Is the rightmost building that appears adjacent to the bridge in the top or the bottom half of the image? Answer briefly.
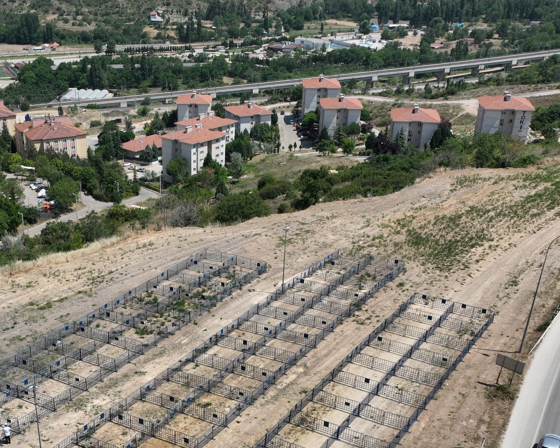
top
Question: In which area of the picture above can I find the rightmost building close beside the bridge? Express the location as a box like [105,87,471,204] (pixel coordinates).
[468,91,538,145]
